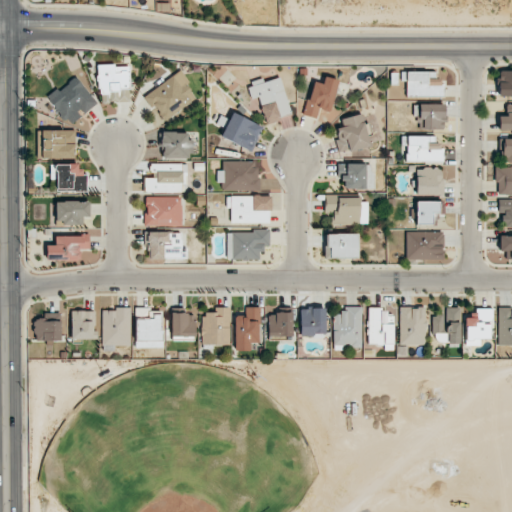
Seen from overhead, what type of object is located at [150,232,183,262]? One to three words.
house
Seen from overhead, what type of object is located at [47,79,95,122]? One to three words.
house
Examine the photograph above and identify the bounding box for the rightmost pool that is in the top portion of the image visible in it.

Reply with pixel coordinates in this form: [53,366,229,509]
[398,174,410,192]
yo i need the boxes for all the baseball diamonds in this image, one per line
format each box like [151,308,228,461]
[39,364,318,512]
